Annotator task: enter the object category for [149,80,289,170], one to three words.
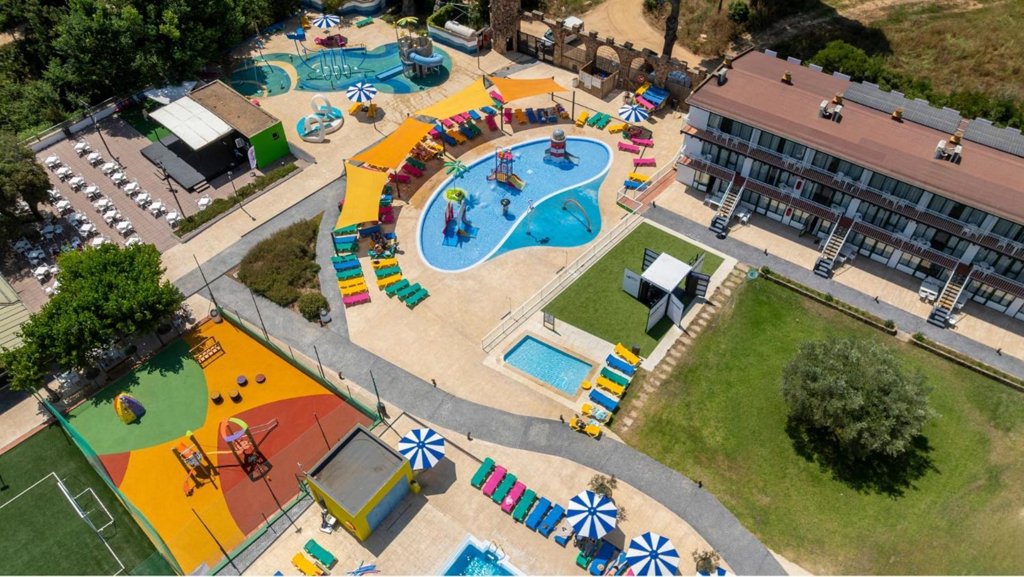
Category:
building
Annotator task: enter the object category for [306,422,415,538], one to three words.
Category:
shed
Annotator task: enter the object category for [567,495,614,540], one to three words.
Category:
umbrella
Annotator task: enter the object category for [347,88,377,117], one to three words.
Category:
umbrella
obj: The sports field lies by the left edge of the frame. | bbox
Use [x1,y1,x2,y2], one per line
[0,421,182,577]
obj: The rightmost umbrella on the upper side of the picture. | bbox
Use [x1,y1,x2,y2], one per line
[618,108,648,133]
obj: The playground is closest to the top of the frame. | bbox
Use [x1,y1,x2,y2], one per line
[61,339,210,455]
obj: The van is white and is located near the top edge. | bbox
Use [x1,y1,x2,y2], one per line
[542,14,586,46]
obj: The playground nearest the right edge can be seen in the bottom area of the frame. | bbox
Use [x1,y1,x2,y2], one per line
[217,394,378,536]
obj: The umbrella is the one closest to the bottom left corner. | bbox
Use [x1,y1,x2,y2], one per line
[400,432,445,473]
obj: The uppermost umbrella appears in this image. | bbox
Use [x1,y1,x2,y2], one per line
[314,18,341,45]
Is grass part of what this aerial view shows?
Yes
